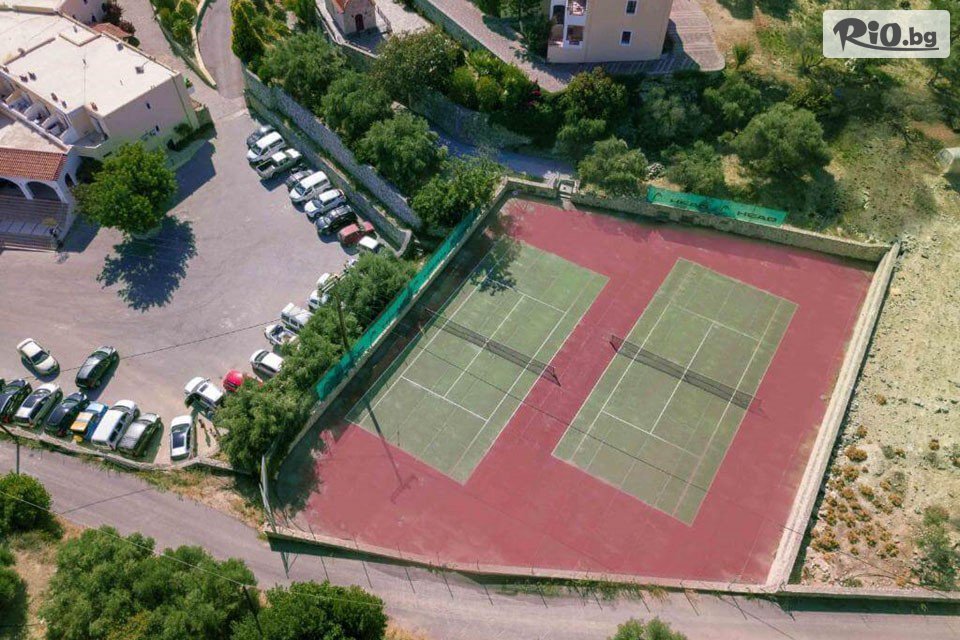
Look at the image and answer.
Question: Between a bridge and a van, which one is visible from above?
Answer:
van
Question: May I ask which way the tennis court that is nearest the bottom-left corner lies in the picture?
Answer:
diagonally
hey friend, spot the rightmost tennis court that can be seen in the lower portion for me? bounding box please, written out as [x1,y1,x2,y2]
[553,258,798,525]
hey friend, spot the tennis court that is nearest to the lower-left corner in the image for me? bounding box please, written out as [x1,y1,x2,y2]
[346,234,608,484]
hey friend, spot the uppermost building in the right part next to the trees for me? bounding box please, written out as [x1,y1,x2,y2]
[544,0,672,62]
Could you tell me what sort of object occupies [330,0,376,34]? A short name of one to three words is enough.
building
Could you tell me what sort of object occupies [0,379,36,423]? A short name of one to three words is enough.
car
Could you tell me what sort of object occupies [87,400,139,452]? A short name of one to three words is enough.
van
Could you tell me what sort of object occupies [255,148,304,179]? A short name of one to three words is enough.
truck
